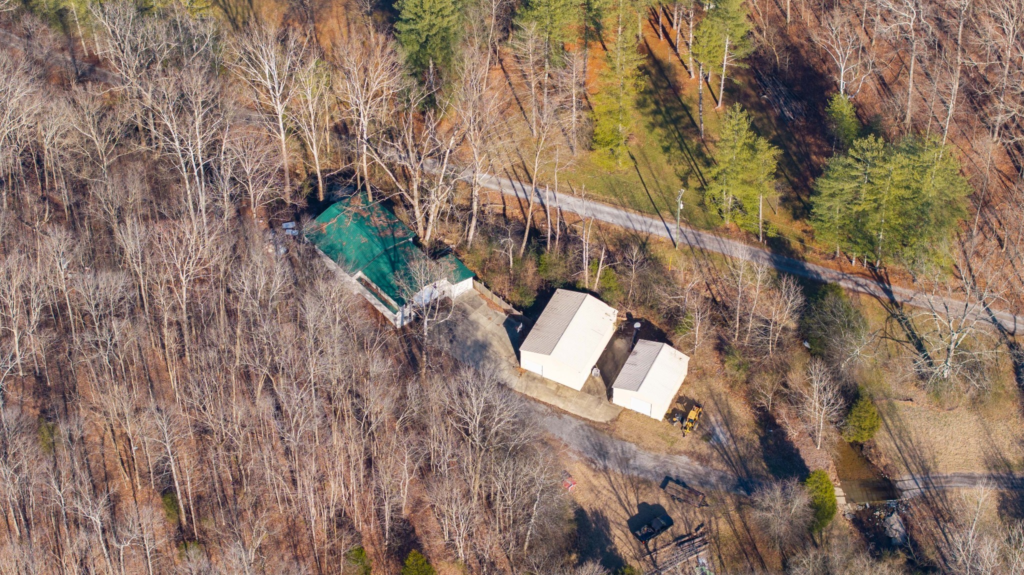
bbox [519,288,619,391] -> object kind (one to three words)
shed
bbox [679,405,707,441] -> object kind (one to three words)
work vehicle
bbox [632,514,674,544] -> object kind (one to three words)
truck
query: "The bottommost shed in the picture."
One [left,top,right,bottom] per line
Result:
[611,340,690,422]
